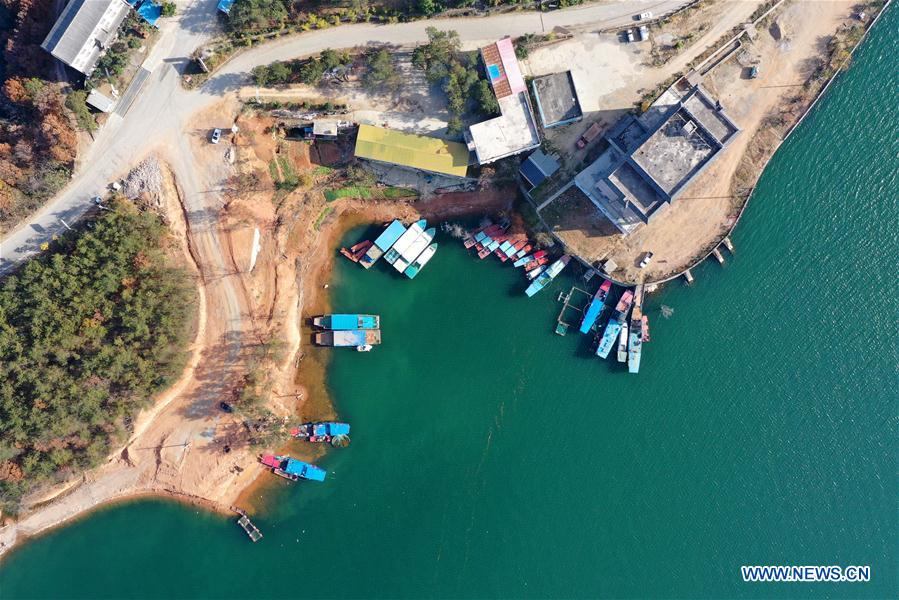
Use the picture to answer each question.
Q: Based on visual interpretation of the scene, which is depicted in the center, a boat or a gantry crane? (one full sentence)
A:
It is a boat that can be seen in the center.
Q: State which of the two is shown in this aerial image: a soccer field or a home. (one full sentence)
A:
This aerial view contains a home.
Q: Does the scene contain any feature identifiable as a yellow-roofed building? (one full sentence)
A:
Yes, there's a yellow-roofed building here.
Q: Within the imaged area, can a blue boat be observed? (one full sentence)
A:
Yes, there's a blue boat down there.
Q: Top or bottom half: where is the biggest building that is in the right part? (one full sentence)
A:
The top half of the photo is where the biggest building that is in the right part is.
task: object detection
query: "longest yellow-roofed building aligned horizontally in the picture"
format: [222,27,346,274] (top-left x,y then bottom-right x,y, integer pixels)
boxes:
[355,124,471,177]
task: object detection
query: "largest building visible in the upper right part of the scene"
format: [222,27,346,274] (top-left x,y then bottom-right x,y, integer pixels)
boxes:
[573,76,743,237]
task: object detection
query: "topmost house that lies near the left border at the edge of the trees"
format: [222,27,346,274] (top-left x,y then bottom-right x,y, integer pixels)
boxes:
[39,0,140,80]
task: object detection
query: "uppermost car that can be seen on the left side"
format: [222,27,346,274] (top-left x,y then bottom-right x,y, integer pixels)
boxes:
[209,127,221,142]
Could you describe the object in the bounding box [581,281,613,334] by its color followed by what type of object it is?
blue boat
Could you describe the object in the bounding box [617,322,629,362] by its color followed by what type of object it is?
white boat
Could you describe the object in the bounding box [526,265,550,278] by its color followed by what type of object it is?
white boat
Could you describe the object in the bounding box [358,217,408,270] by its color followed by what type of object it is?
blue boat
